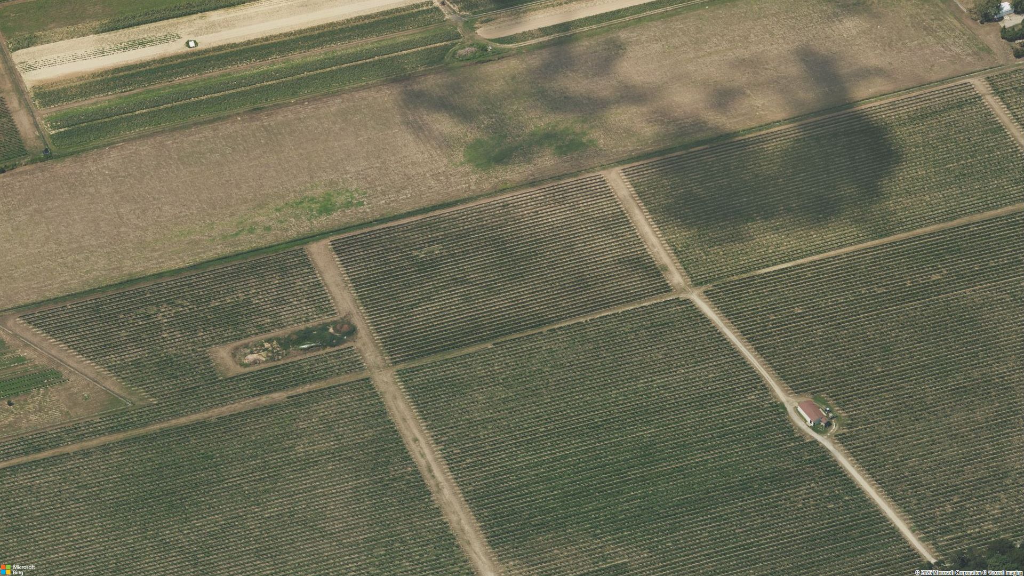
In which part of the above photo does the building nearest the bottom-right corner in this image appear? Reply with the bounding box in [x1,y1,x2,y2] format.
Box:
[795,396,829,425]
